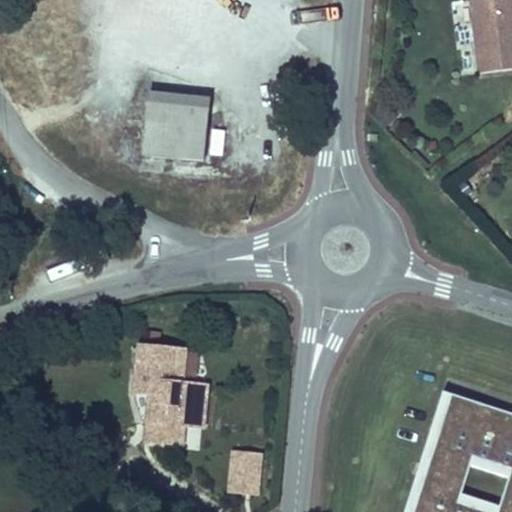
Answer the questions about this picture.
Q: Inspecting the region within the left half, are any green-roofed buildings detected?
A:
No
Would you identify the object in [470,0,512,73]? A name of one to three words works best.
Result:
house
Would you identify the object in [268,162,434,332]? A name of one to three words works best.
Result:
roundabout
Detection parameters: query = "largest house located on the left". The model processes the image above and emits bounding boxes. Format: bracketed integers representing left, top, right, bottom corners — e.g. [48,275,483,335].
[132,330,210,451]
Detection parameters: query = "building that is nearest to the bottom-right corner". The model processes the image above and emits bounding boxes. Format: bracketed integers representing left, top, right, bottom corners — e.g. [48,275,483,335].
[404,390,512,512]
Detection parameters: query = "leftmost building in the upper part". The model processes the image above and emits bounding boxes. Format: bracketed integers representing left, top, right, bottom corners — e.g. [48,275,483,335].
[142,91,210,161]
